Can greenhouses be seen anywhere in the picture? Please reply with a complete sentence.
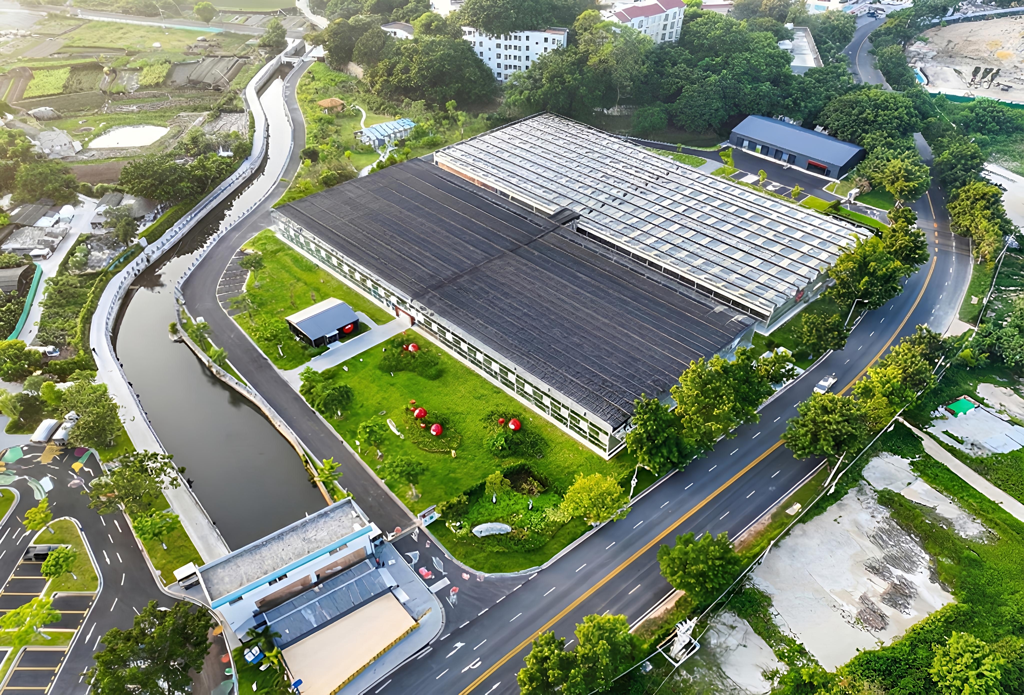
Yes, the image includes a greenhouse.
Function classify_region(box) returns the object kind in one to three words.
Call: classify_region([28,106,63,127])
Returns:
shed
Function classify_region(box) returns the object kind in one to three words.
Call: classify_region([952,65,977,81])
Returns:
work vehicle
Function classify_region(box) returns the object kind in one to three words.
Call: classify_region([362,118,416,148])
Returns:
building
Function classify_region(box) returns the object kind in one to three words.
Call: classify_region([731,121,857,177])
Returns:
shed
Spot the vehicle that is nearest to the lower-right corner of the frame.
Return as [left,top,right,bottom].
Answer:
[816,375,838,392]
